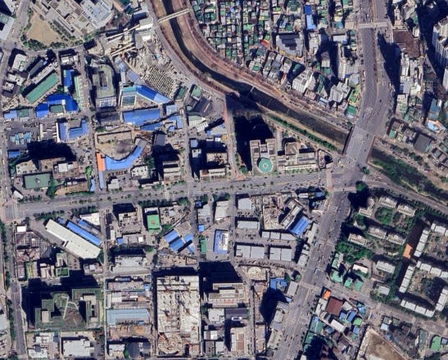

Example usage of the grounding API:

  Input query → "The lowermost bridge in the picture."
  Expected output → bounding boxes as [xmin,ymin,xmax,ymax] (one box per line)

[340,113,385,170]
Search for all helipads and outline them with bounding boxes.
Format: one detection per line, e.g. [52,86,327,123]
[258,157,274,173]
